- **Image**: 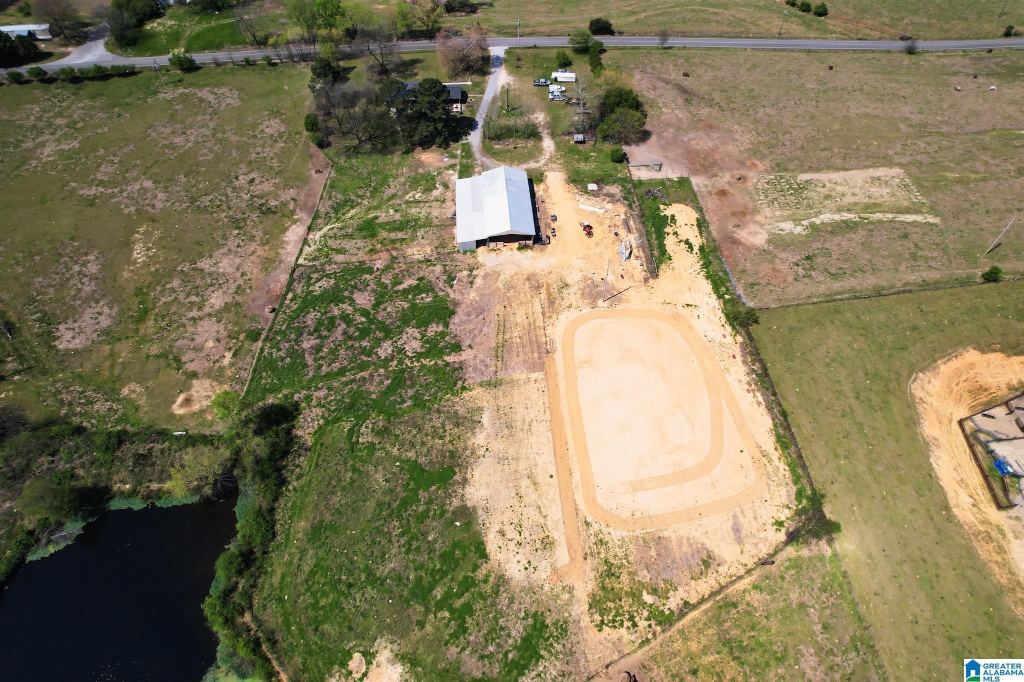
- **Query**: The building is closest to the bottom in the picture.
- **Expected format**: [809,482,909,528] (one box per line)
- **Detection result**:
[452,163,535,251]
